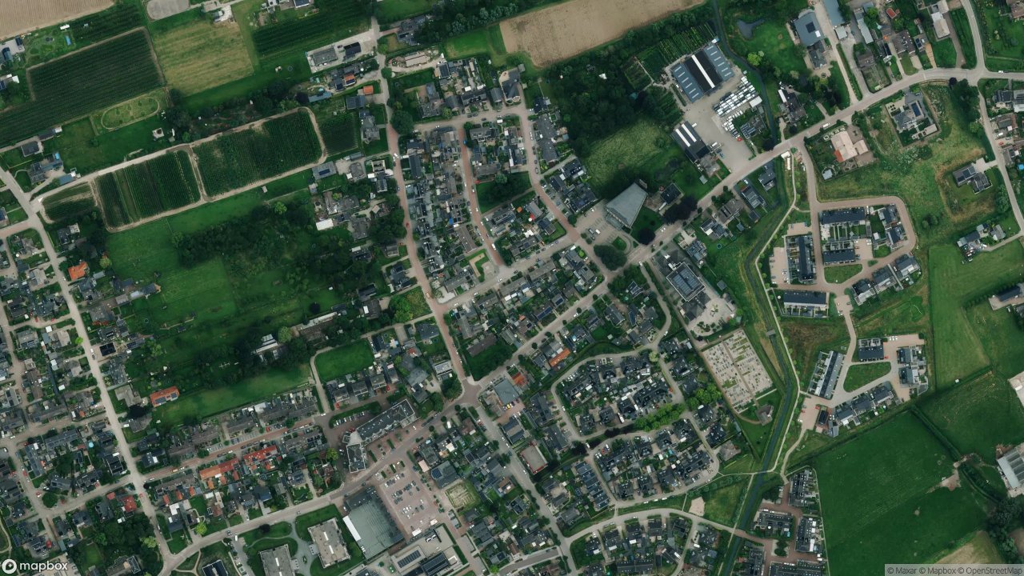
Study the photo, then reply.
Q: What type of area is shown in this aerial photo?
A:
residential area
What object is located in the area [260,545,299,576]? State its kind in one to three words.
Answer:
house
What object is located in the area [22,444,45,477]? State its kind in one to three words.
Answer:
building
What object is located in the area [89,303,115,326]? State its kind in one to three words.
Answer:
house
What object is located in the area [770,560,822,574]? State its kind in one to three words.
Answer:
building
